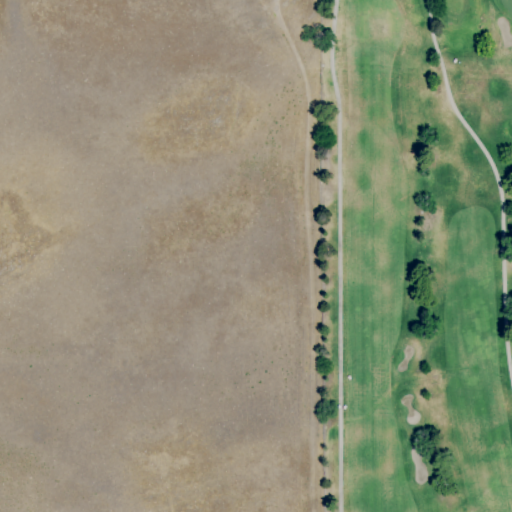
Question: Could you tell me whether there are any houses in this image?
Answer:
No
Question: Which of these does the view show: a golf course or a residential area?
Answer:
golf course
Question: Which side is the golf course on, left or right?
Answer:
right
